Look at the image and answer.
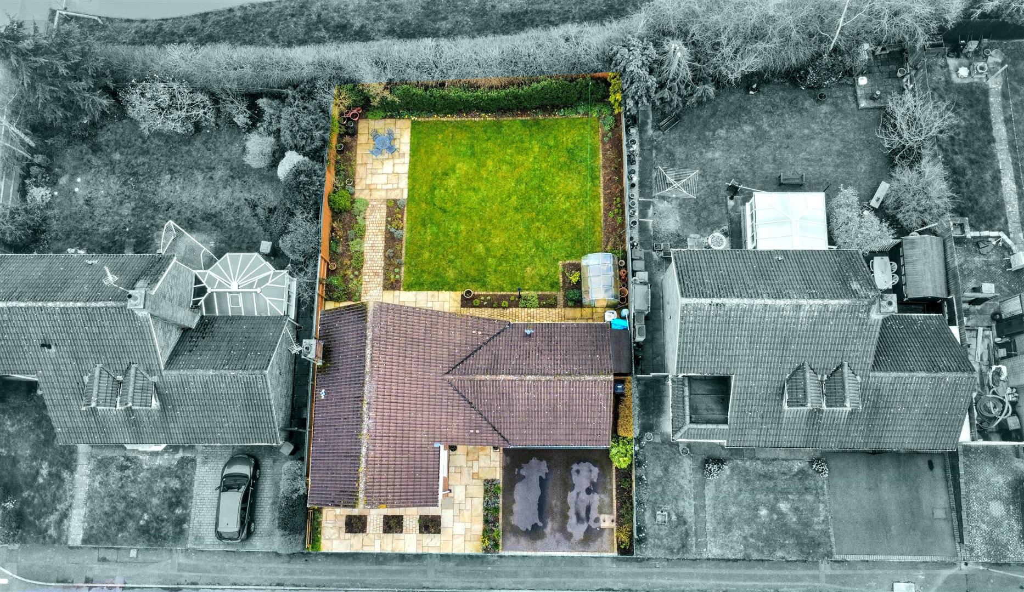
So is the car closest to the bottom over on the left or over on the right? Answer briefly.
left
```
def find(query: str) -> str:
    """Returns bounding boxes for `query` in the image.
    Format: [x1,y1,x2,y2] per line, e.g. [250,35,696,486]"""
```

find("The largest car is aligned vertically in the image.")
[212,454,263,545]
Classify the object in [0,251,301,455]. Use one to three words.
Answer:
house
